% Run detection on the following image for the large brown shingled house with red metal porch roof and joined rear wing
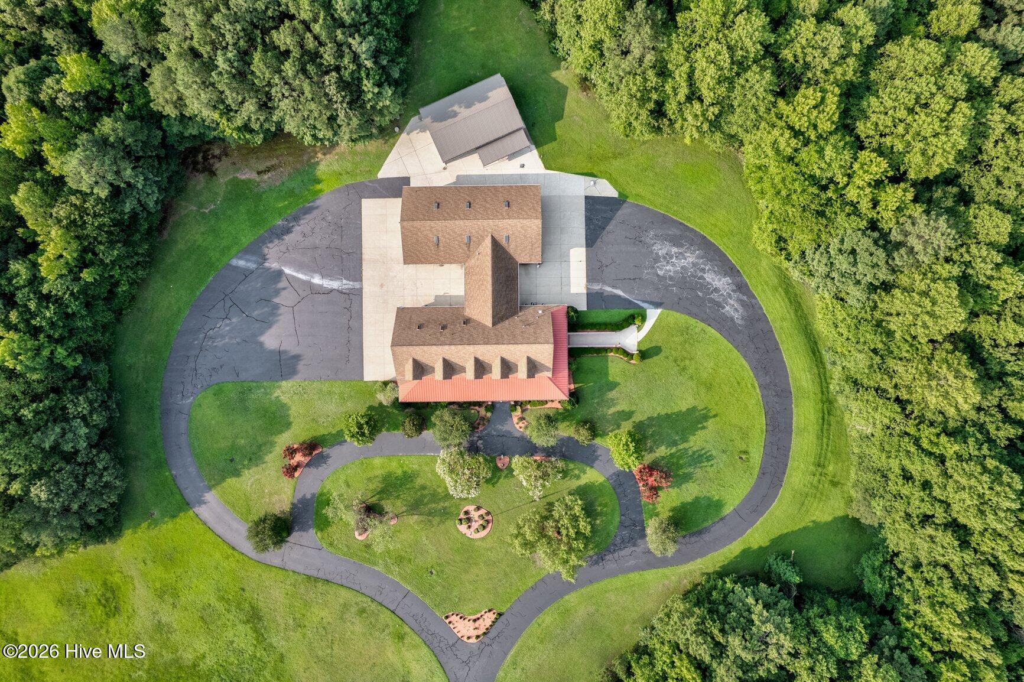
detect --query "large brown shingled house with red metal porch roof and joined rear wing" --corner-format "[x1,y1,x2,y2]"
[391,184,569,402]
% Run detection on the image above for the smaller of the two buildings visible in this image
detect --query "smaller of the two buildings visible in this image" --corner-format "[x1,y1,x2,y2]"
[420,72,530,168]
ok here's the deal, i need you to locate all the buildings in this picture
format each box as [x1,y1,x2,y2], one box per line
[391,184,569,402]
[420,72,530,168]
